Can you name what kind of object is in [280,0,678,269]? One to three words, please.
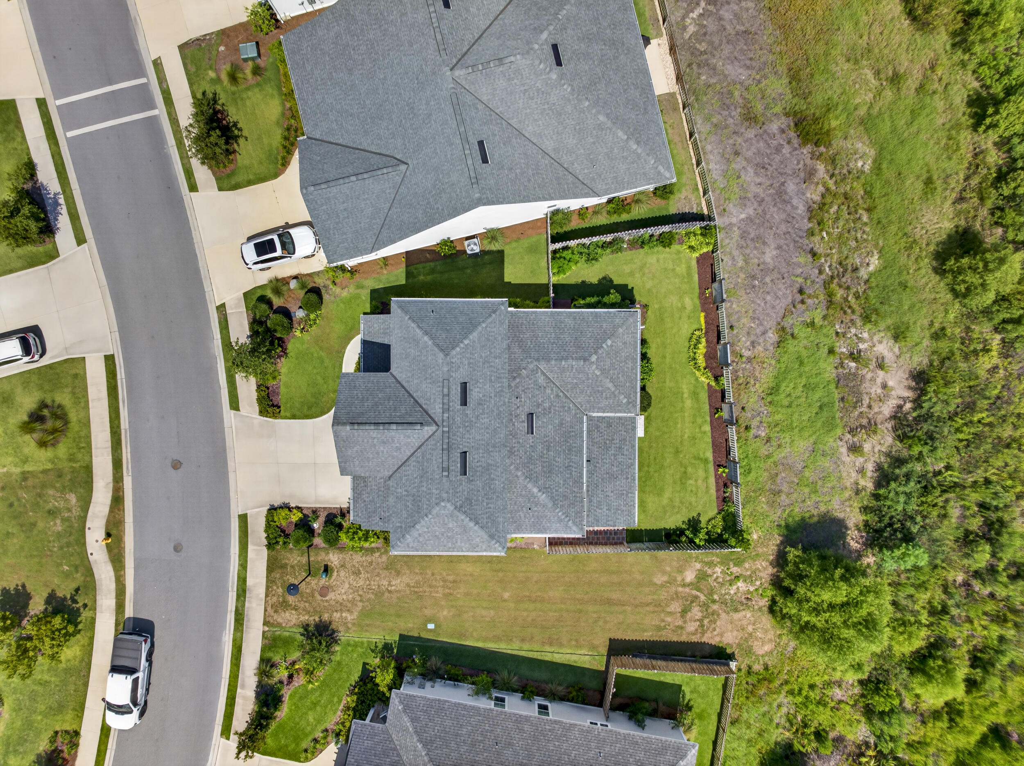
house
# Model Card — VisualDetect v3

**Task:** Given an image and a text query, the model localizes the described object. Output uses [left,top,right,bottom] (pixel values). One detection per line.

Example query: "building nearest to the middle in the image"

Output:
[334,296,643,556]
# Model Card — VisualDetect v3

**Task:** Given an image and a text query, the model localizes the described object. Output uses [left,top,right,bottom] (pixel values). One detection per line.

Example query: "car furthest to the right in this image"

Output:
[237,224,320,273]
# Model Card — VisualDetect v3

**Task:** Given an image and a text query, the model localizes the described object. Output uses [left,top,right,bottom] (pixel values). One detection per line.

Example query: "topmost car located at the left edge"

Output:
[0,331,46,369]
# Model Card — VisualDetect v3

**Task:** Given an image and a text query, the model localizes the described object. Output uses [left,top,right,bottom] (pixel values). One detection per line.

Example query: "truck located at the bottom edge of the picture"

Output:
[101,631,155,731]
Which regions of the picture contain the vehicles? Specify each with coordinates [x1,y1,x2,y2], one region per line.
[0,331,46,369]
[237,224,320,273]
[101,631,155,731]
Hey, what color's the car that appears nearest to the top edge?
white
